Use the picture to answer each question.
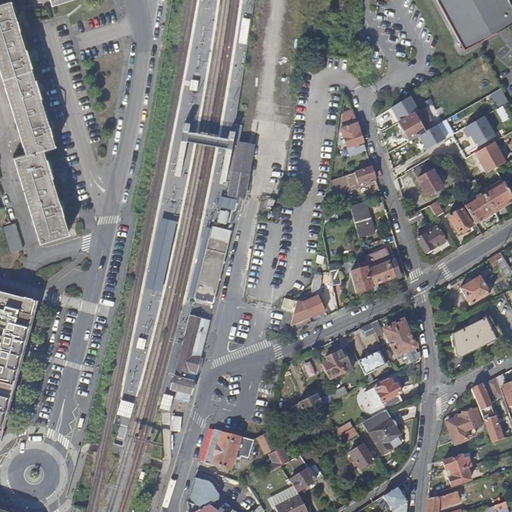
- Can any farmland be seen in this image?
No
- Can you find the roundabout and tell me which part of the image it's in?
bottom left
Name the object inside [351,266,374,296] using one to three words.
house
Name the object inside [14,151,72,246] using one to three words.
building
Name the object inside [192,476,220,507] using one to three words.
building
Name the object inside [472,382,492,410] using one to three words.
house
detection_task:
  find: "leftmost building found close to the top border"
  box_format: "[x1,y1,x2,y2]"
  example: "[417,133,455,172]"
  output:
[0,2,58,156]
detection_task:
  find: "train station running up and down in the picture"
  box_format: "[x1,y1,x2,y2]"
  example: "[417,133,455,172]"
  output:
[121,0,254,404]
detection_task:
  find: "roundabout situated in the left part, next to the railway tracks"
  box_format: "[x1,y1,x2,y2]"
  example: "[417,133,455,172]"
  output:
[0,434,76,512]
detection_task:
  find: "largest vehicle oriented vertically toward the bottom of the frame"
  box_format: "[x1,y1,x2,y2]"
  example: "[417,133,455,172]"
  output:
[164,478,176,510]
